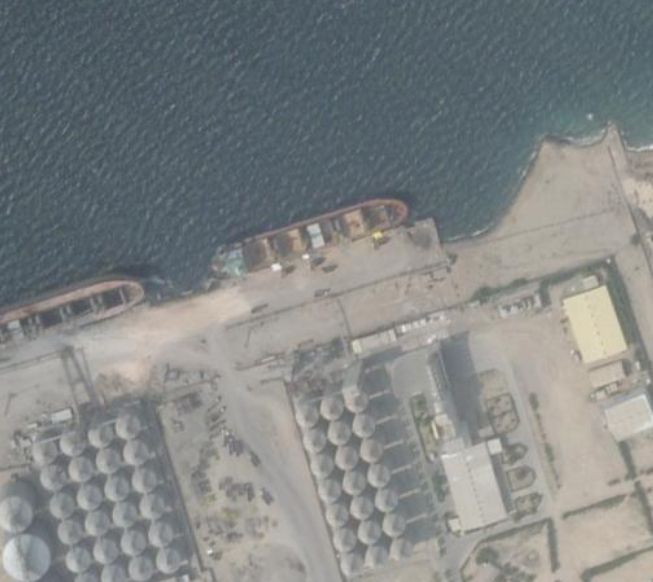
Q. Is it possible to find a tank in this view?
Yes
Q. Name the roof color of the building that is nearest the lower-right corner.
white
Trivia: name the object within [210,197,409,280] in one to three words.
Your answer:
ship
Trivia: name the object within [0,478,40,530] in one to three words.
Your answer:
storage tank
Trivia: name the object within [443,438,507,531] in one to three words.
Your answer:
building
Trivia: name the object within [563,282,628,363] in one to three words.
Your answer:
building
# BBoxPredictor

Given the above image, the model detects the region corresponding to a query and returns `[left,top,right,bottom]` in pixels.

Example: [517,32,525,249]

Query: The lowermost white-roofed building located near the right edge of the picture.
[605,392,653,441]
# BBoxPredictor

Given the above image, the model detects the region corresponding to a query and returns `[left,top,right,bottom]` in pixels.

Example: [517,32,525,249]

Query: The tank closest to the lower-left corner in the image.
[3,517,56,579]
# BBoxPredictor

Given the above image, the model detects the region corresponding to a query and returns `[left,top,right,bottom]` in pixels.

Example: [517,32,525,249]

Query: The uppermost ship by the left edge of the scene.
[0,278,144,356]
